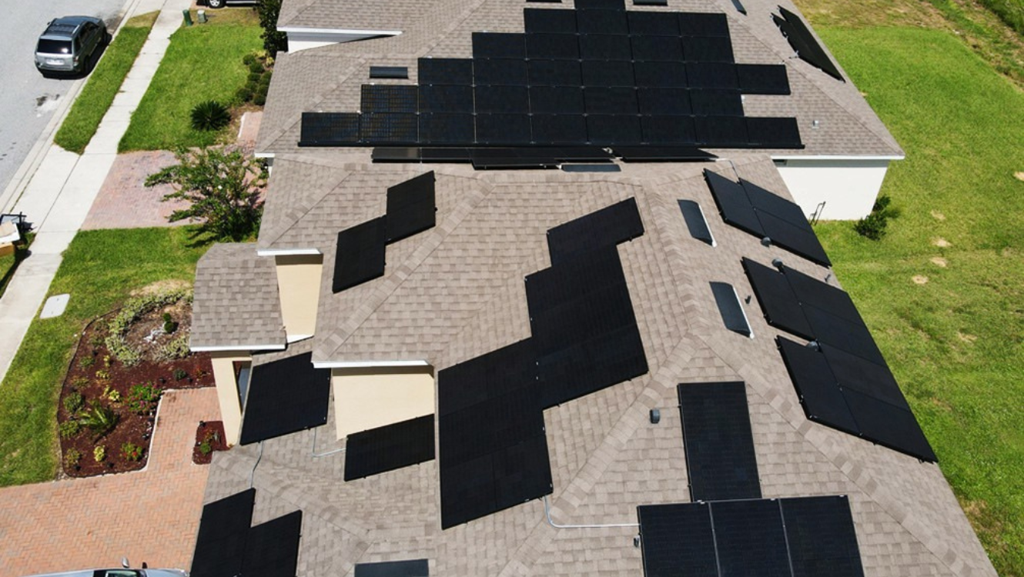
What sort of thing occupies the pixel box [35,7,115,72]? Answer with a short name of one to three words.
car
